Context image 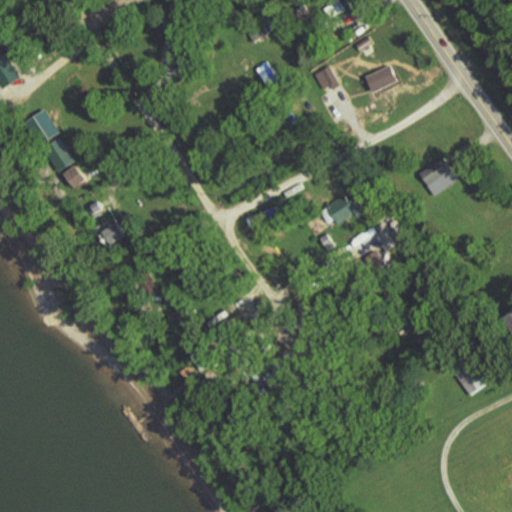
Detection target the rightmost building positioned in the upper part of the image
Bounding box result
[417,158,457,196]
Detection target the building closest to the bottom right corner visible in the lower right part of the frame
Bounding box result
[456,367,489,400]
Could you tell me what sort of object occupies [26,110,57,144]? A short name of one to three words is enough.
house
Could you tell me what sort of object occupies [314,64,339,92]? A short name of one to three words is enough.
barn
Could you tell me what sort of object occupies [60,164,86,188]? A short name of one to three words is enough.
house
